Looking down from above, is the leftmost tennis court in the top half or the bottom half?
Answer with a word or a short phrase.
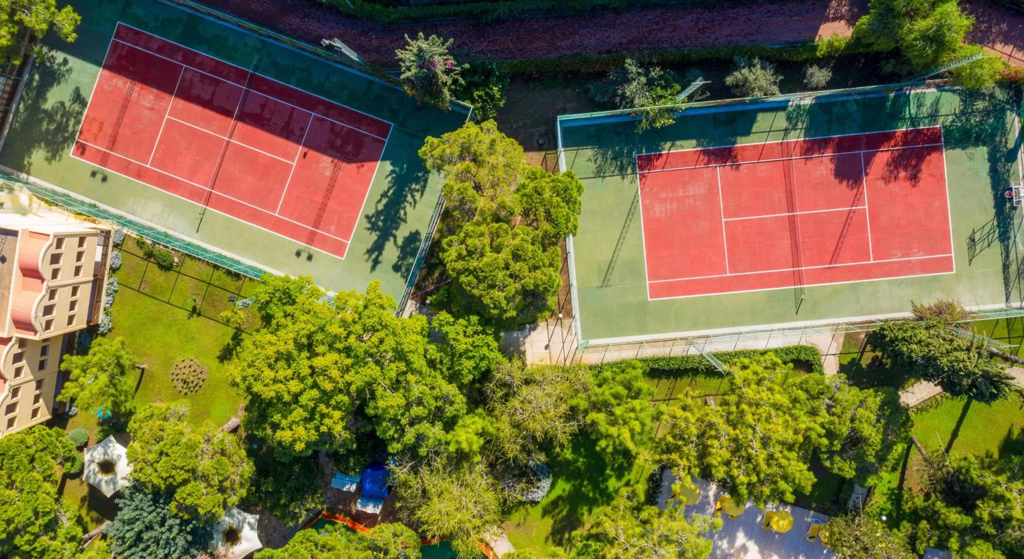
top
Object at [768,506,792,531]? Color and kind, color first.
yellow umbrella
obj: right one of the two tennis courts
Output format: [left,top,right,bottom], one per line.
[556,78,1024,347]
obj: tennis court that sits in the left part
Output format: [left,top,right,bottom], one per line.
[0,0,475,318]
